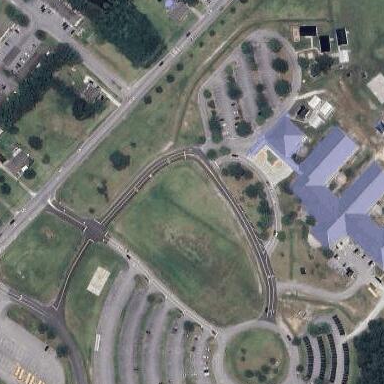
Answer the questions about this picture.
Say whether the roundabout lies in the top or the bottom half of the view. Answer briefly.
bottom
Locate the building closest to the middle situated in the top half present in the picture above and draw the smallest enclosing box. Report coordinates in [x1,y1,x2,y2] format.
[261,108,309,159]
